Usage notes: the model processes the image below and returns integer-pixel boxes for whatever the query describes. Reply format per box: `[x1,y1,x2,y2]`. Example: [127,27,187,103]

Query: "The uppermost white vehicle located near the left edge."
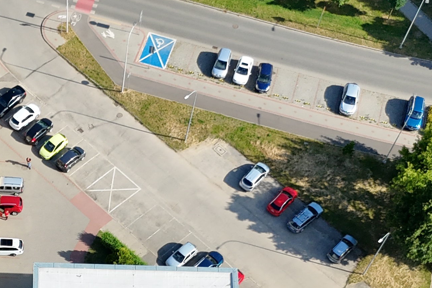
[6,104,40,134]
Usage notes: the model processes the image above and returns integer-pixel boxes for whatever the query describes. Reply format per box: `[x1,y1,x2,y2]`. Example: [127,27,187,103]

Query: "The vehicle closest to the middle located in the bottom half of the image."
[238,163,271,195]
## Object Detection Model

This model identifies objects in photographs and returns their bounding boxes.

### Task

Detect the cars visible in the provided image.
[0,237,24,258]
[263,185,301,219]
[0,195,23,216]
[163,236,200,267]
[211,47,233,79]
[0,174,23,195]
[52,144,88,177]
[21,118,55,148]
[6,104,40,134]
[0,85,28,120]
[285,202,324,236]
[253,61,274,95]
[37,130,71,163]
[402,94,427,131]
[197,252,227,268]
[238,163,271,195]
[232,53,256,89]
[339,80,363,118]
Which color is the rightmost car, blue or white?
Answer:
blue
